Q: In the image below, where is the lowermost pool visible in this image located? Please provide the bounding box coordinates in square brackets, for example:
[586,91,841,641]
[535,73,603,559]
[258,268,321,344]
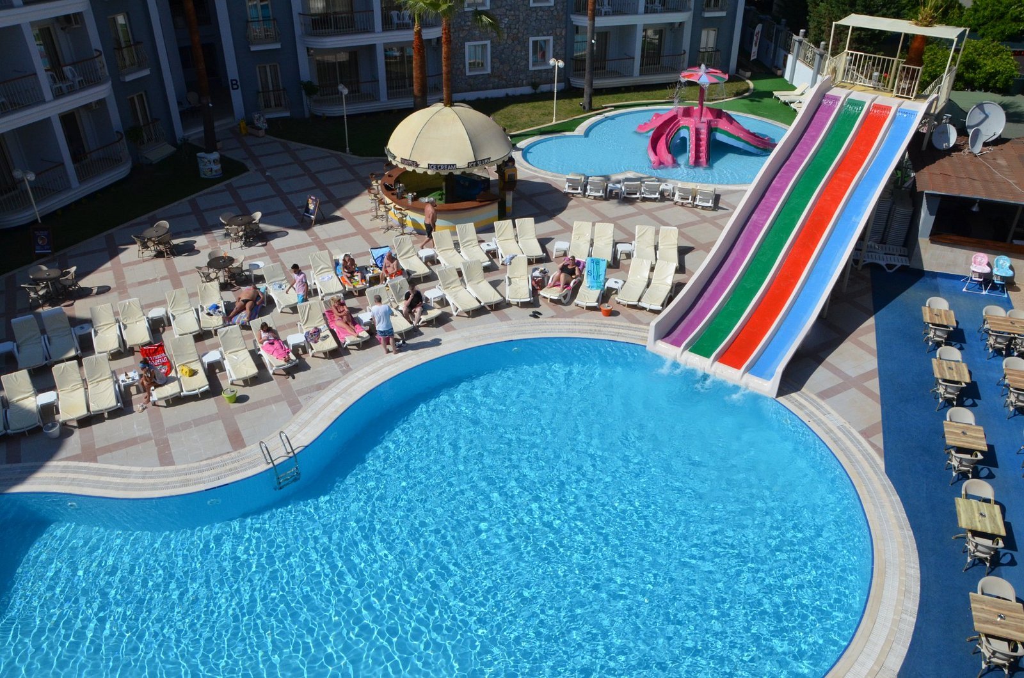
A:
[0,338,874,678]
